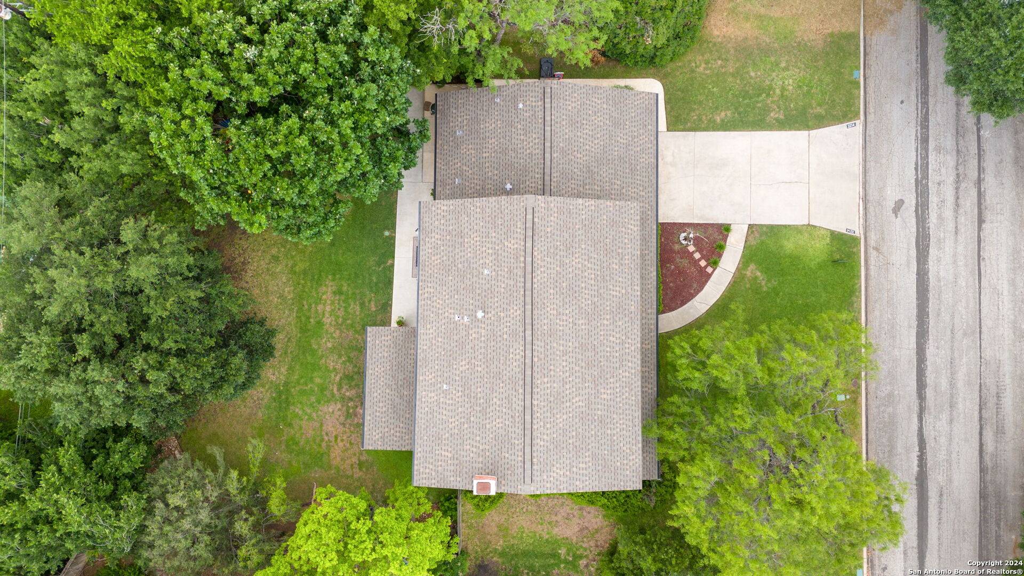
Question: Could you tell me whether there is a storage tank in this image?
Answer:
No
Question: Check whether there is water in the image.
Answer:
No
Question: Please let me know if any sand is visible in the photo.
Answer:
No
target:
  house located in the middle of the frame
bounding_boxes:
[361,79,664,495]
